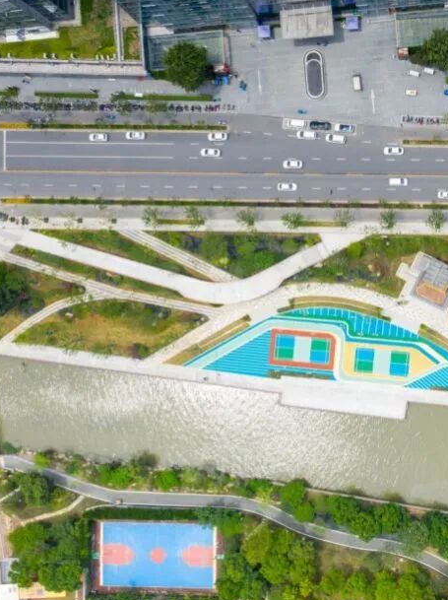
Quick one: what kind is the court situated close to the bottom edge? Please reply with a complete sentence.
The court situated close to the bottom edge is a basketball court.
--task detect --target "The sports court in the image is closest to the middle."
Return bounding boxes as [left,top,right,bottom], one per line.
[268,329,336,370]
